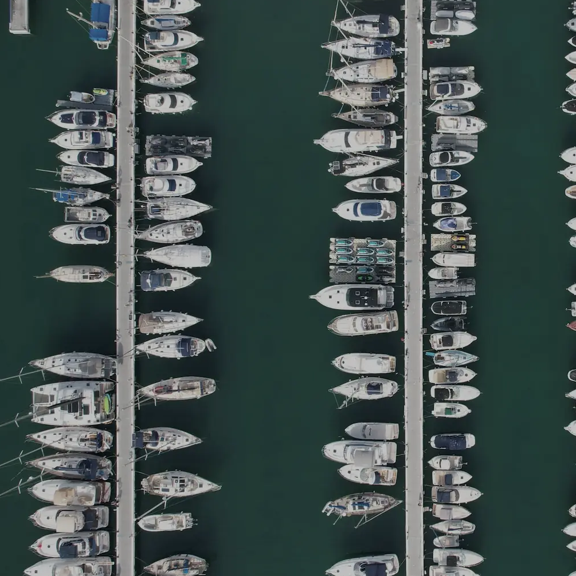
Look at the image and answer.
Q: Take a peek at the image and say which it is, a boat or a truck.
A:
boat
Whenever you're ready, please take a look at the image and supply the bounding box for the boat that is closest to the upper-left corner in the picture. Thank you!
[66,0,116,52]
